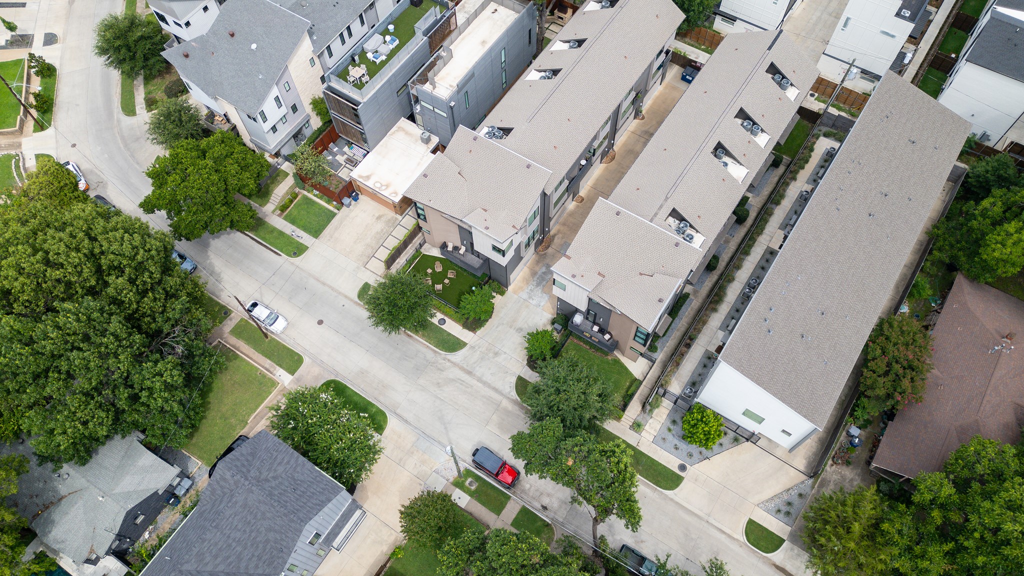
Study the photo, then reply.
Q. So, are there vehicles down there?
Yes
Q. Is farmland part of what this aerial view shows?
No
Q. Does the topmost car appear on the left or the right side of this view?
left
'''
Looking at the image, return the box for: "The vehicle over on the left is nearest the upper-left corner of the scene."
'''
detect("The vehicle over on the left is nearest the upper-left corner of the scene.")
[56,159,92,194]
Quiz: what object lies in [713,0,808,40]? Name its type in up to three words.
house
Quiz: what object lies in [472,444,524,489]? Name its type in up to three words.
car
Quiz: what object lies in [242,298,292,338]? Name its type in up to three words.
car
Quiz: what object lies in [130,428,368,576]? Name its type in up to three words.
house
